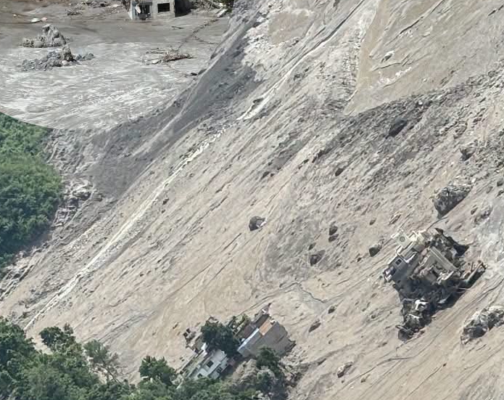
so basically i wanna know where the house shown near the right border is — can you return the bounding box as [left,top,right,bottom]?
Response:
[354,222,485,341]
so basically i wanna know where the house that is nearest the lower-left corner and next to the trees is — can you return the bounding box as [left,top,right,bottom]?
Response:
[168,334,223,386]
